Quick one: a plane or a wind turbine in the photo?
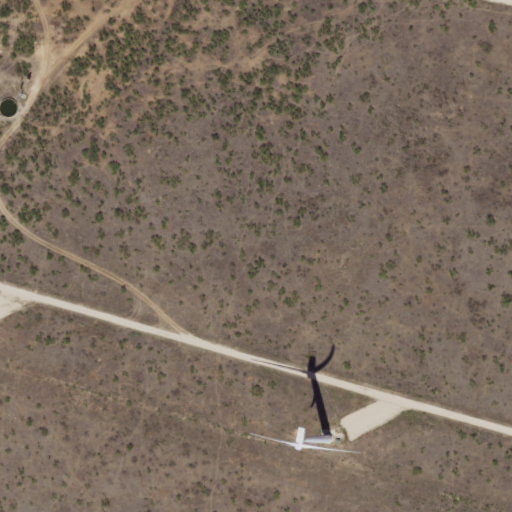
wind turbine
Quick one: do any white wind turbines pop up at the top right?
No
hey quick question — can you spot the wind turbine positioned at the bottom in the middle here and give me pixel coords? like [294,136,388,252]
[237,428,344,453]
